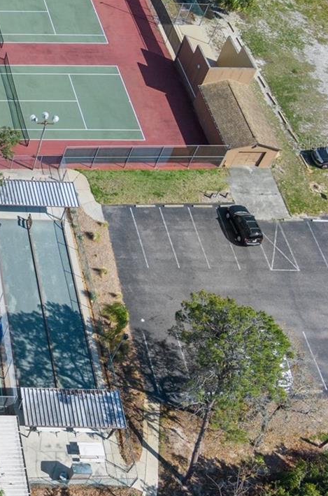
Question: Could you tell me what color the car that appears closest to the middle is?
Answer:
black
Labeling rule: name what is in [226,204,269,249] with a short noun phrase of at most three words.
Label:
car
